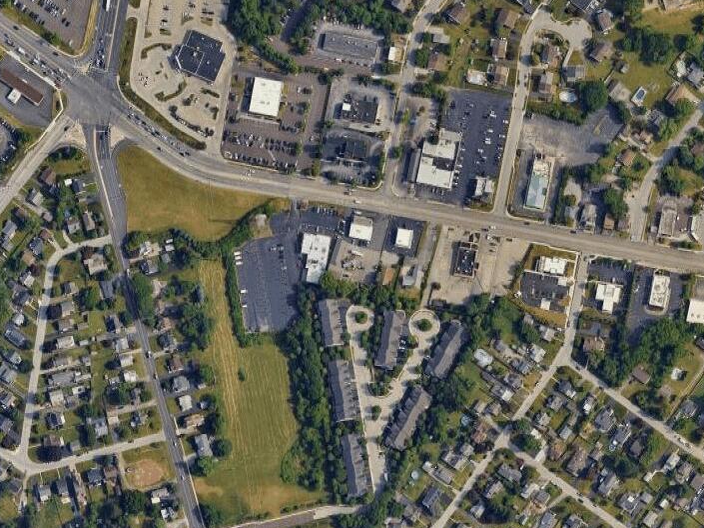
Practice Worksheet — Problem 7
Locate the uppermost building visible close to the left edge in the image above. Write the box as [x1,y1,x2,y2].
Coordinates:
[0,66,43,106]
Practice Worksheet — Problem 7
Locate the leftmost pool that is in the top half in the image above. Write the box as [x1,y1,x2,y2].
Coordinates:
[559,88,577,104]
